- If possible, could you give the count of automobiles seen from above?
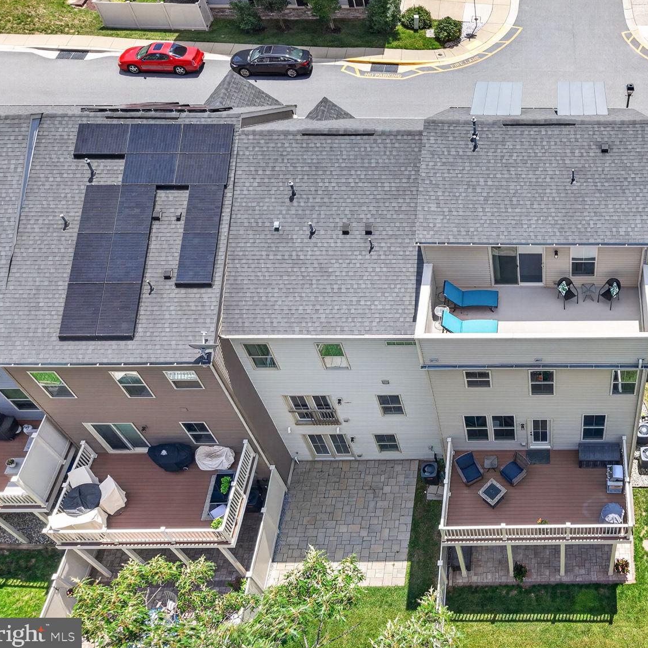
2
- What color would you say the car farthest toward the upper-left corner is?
red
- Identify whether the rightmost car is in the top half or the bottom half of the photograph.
top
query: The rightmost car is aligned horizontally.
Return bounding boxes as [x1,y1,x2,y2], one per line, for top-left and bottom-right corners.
[233,39,321,77]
